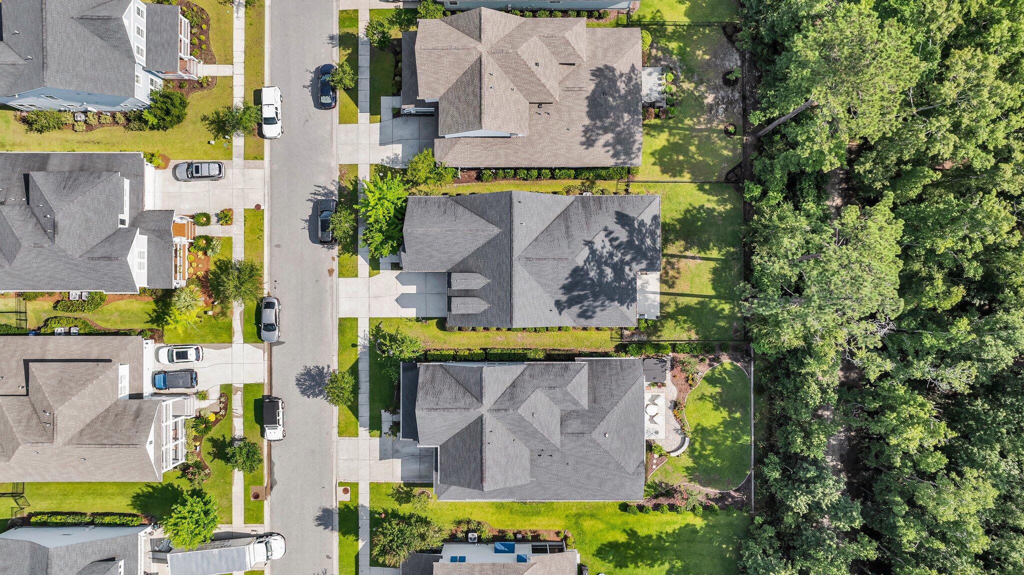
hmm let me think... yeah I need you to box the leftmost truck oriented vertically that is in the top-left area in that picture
[261,84,283,140]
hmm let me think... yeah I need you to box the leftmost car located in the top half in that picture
[175,158,225,180]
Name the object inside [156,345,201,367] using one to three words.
car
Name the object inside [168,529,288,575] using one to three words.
truck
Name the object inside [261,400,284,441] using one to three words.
car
